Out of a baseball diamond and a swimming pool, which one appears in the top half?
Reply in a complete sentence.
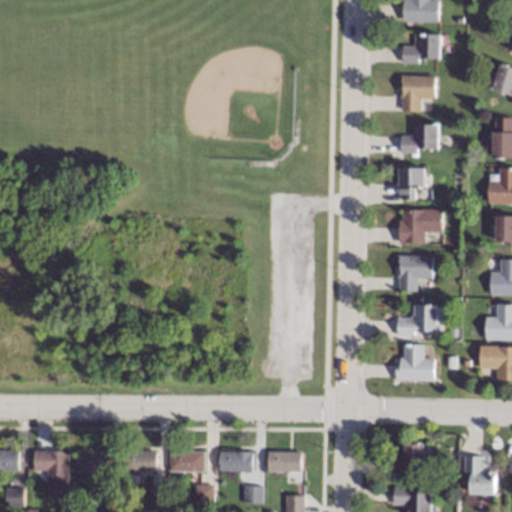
The one visible in the top half is a baseball diamond.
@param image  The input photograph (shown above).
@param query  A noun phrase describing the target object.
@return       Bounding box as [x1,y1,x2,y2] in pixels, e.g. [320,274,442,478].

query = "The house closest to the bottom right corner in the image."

[466,456,496,497]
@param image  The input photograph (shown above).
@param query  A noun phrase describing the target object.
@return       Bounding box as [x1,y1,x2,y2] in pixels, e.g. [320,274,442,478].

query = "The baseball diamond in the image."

[186,46,284,150]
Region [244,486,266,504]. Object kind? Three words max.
building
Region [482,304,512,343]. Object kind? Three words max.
house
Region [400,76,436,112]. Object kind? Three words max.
house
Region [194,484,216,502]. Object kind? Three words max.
building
